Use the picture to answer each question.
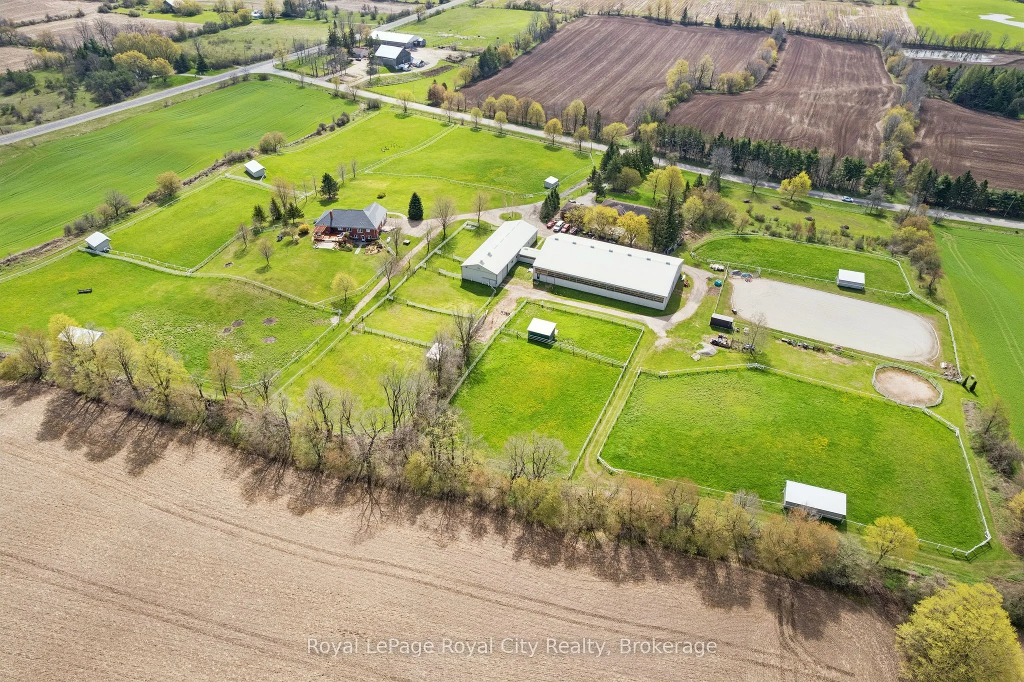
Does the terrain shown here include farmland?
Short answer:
Yes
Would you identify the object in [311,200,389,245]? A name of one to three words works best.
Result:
house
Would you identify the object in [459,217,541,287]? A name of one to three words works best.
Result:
barn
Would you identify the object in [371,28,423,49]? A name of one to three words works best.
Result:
barn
